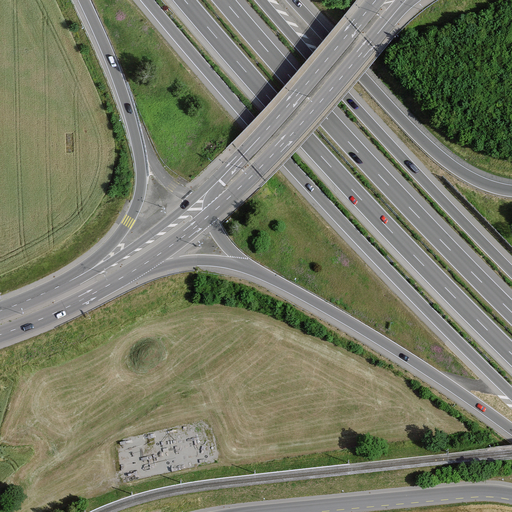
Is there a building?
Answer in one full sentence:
No, there isn't any building down there.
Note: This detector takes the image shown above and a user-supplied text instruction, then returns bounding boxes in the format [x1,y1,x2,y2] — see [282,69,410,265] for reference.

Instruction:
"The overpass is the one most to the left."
[190,0,394,190]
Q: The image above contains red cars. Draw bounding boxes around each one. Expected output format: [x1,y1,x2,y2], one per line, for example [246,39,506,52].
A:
[349,196,358,205]
[380,214,389,224]
[476,404,486,412]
